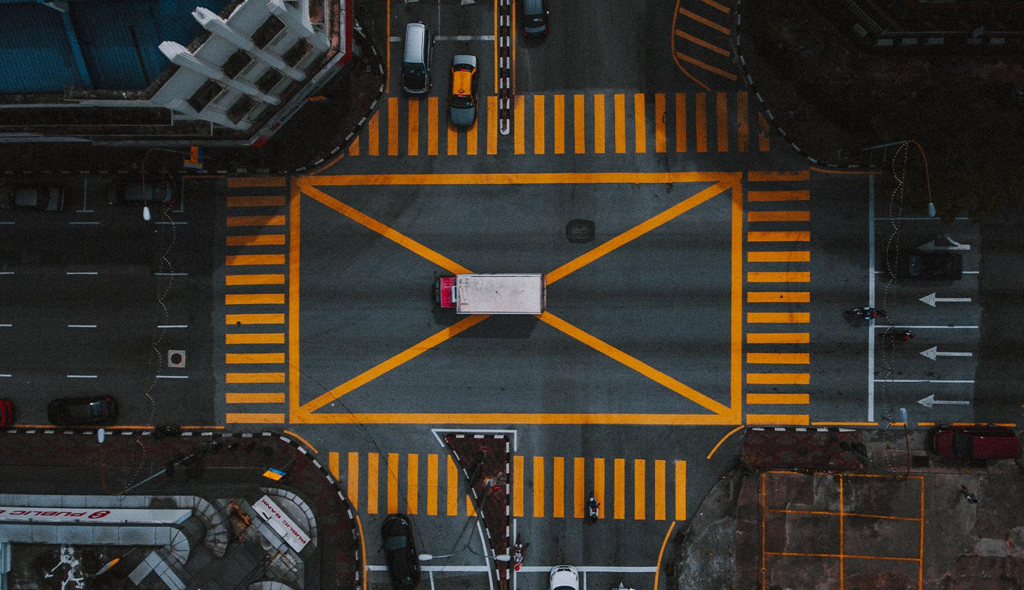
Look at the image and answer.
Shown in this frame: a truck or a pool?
truck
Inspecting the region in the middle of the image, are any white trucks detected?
Yes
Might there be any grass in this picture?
No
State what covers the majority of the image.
paved ground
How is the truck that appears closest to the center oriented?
from left to right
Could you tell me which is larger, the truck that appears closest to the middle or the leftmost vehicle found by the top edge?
the truck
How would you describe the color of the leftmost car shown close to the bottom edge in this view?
black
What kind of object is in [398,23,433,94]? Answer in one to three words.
vehicle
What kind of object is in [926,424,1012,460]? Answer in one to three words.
vehicle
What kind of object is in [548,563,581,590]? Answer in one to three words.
car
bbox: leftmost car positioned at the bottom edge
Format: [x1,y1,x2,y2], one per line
[381,513,421,590]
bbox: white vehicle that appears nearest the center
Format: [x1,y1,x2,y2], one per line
[432,271,550,313]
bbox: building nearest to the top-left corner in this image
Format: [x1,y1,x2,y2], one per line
[0,0,365,146]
